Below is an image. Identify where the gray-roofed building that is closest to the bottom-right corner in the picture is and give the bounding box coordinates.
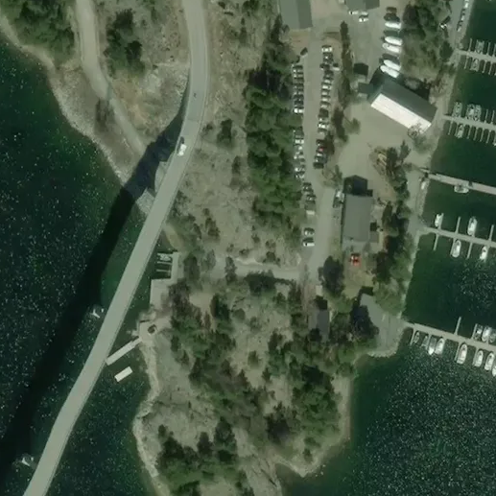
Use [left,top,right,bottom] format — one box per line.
[361,291,391,328]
